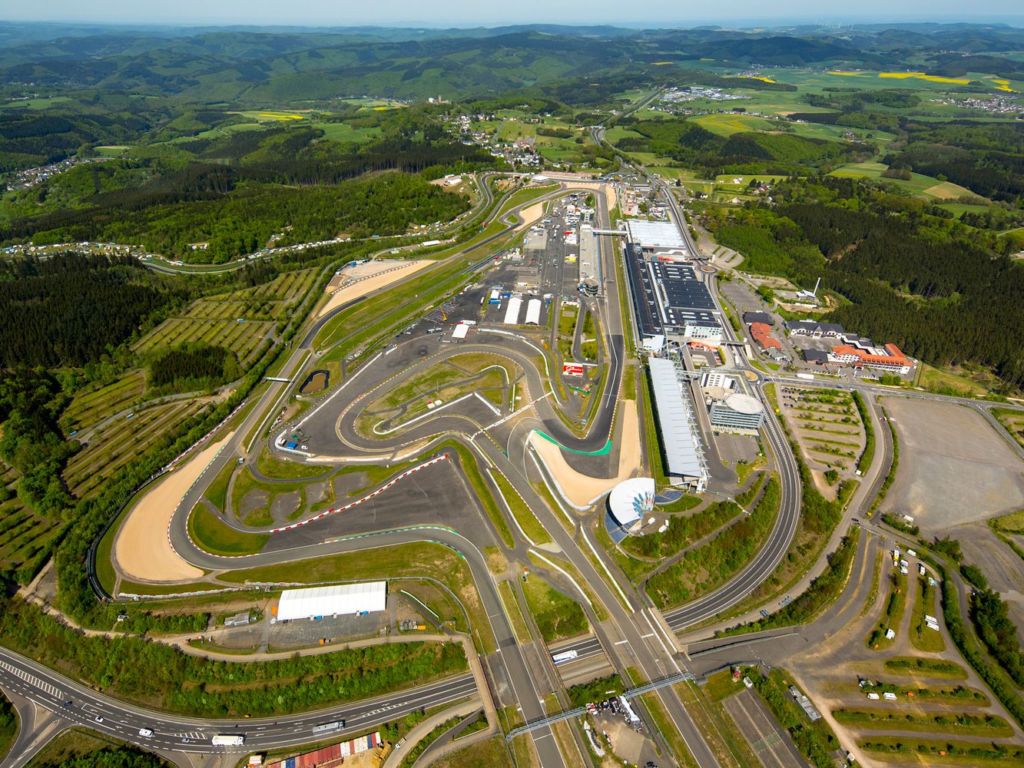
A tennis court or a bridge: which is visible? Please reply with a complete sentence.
I can see a bridge in this picture.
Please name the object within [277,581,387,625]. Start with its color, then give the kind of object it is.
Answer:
white tent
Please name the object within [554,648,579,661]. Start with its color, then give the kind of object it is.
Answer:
white vehicle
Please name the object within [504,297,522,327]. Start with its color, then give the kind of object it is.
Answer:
white tent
